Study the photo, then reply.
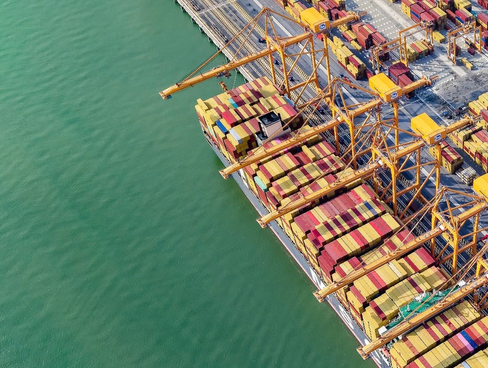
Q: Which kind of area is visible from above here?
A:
port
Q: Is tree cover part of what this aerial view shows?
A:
No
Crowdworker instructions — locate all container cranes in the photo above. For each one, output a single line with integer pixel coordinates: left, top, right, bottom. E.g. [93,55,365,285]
[314,171,488,303]
[221,73,433,181]
[394,14,438,63]
[358,242,488,362]
[161,4,361,107]
[447,19,484,65]
[259,114,477,231]
[366,30,404,74]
